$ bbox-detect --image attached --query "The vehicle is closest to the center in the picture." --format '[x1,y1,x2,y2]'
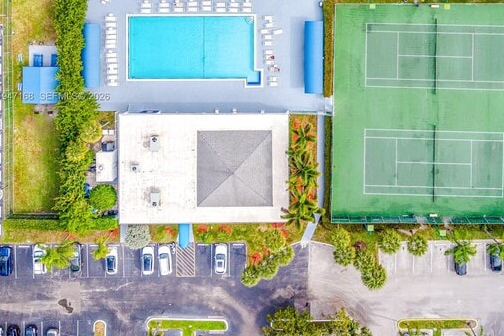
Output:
[215,243,228,272]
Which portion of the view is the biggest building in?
center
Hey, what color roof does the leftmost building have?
blue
